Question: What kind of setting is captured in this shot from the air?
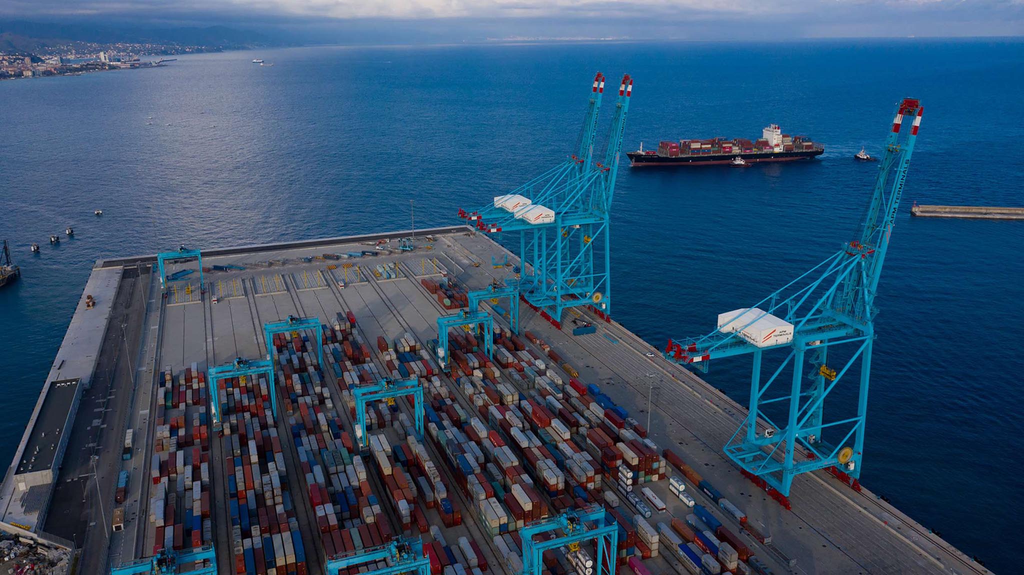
port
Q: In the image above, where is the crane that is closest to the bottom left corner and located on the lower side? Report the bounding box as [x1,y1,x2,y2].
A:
[109,543,215,575]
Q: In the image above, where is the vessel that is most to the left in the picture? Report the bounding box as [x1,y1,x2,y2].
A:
[0,238,22,289]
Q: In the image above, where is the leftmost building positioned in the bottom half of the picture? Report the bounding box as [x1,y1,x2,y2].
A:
[13,376,83,490]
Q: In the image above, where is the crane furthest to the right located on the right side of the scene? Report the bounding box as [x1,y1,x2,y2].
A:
[657,97,925,509]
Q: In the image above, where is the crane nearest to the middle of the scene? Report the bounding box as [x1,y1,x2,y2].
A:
[468,282,523,350]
